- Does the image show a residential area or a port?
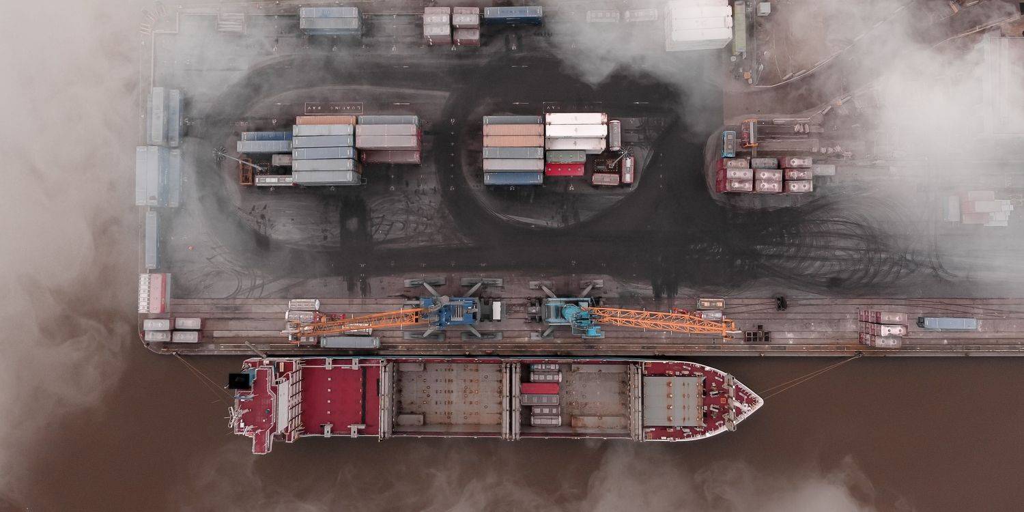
port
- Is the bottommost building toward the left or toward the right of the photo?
right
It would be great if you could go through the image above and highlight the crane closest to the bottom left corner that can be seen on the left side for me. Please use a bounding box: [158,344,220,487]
[285,278,505,342]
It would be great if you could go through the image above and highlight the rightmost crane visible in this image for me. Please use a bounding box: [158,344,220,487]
[527,280,737,339]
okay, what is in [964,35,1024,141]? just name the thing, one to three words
building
